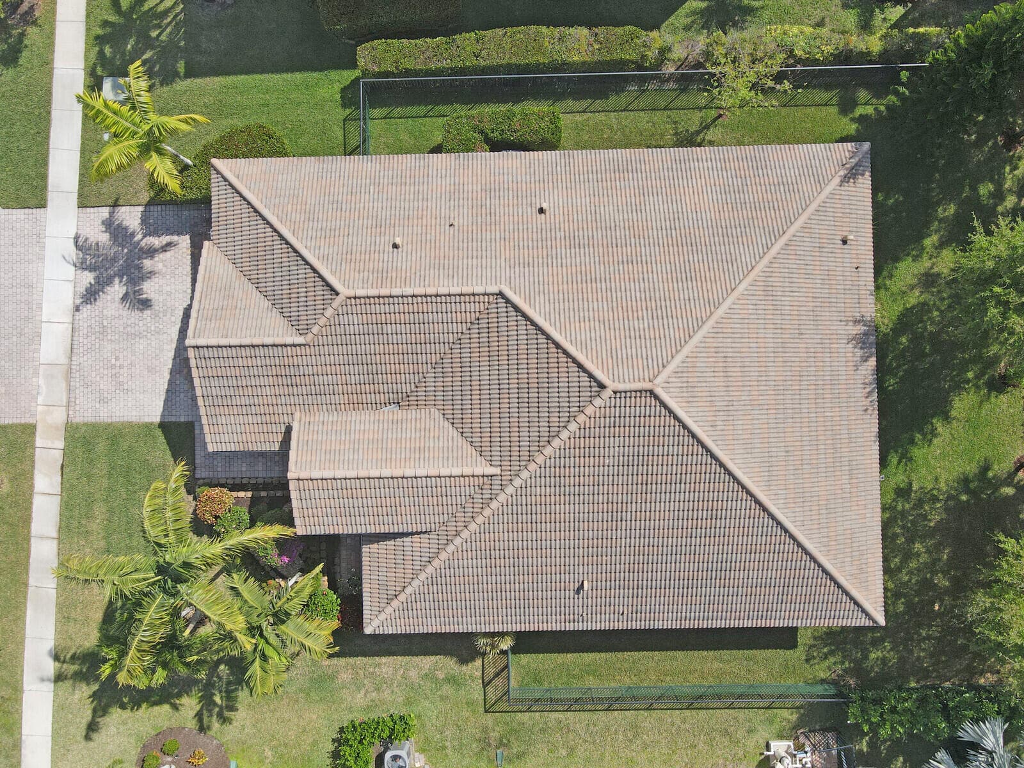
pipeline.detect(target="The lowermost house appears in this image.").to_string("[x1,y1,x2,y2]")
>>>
[180,138,889,639]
